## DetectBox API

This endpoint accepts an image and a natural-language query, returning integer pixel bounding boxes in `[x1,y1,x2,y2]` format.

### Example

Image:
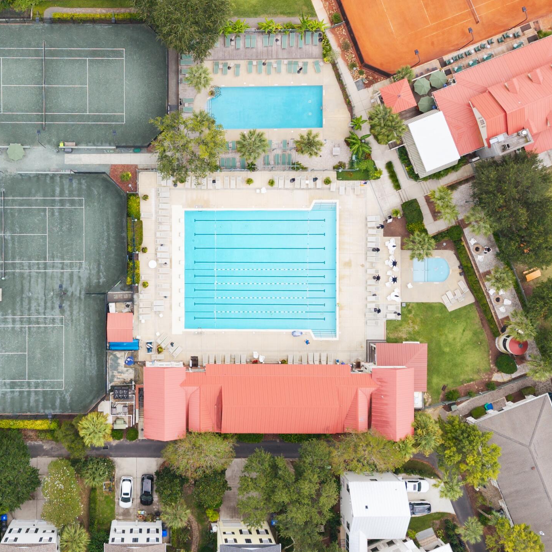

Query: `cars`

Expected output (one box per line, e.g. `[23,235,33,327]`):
[401,479,433,495]
[408,502,434,518]
[139,473,155,506]
[118,476,134,508]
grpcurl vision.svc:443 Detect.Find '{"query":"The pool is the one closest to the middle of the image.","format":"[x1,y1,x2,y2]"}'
[172,199,339,341]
